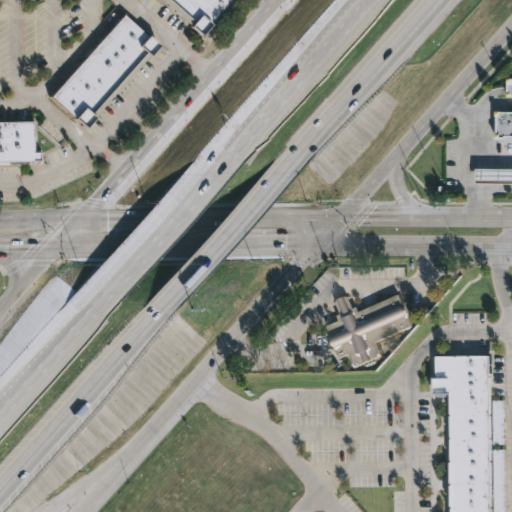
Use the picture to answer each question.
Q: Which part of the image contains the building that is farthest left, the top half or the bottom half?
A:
top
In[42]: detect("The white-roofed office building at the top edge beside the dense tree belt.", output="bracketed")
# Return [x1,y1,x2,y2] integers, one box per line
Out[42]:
[170,0,230,38]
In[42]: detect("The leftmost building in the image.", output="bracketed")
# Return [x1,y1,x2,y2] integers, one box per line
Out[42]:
[0,122,42,166]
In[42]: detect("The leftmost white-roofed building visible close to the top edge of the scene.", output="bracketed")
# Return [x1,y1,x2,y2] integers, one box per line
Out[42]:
[54,14,158,130]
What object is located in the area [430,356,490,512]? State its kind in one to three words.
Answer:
building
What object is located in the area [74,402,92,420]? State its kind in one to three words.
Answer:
vehicle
